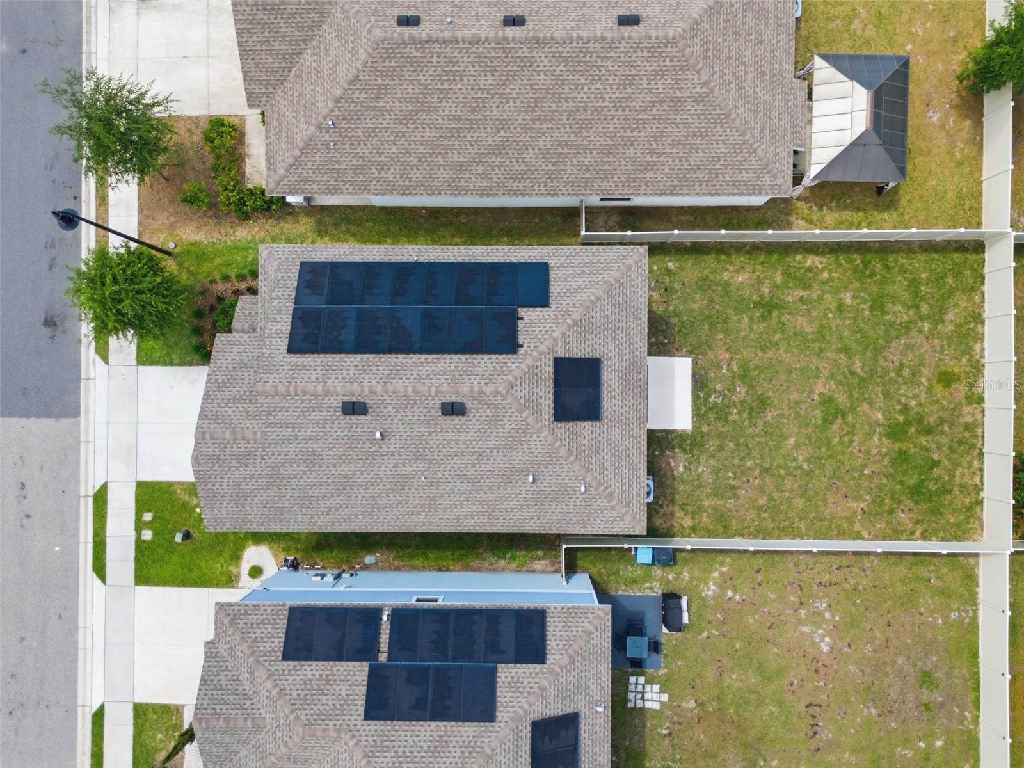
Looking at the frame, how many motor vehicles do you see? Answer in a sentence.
I count no motor vehicles.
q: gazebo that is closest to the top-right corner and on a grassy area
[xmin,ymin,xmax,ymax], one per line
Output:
[785,53,910,200]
